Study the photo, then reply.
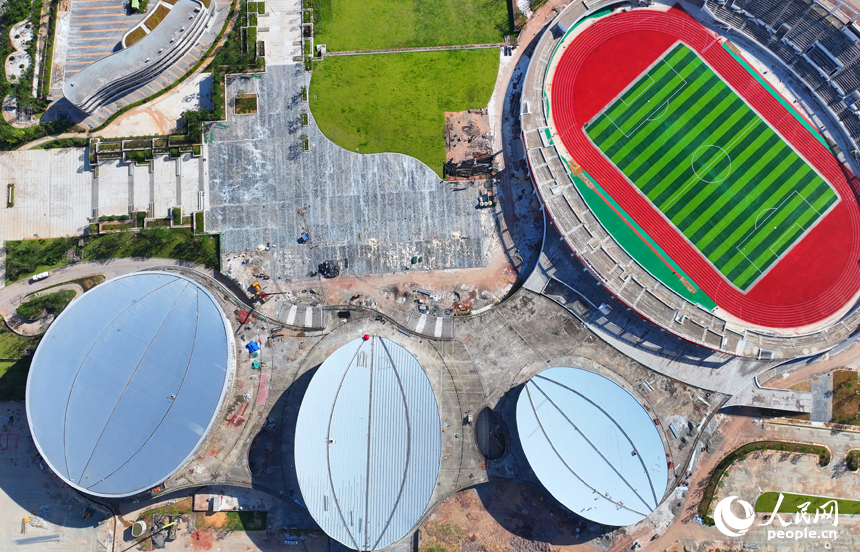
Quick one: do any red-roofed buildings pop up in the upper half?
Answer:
No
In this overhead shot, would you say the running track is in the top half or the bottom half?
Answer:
top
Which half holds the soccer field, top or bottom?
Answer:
top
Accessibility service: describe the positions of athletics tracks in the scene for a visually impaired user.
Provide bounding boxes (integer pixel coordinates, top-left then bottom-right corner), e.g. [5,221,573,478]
[548,0,860,325]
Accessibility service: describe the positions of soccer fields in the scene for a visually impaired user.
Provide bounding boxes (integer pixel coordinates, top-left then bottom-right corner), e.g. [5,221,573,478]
[584,39,840,292]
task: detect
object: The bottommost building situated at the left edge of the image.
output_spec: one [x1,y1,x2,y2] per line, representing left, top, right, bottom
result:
[24,271,243,497]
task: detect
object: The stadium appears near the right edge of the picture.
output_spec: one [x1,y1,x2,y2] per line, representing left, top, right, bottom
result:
[518,0,860,363]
